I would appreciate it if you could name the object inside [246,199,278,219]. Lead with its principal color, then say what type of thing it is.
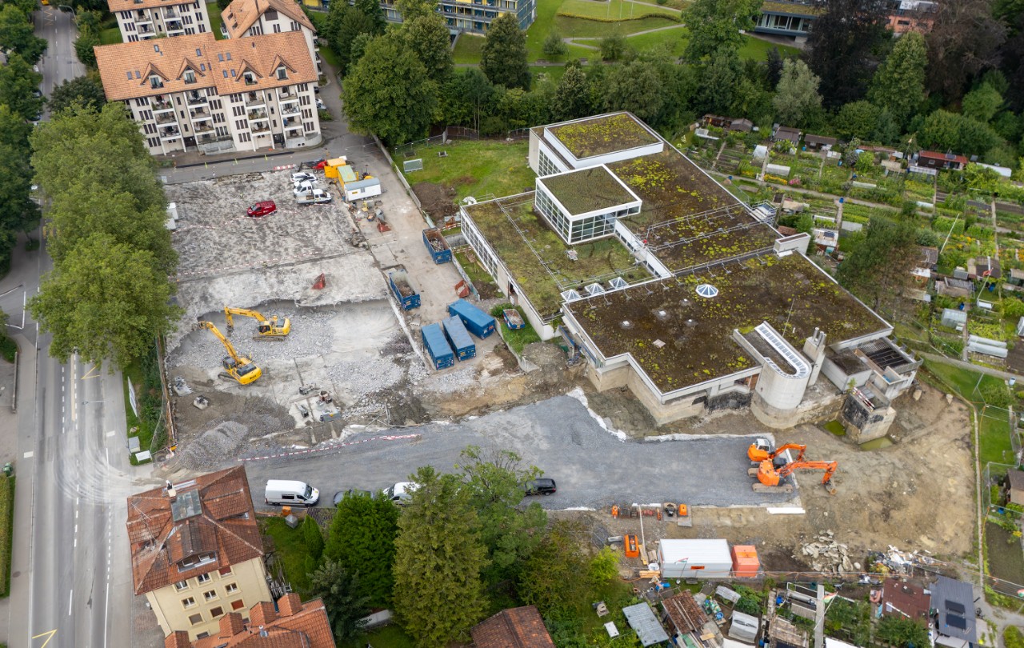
red vehicle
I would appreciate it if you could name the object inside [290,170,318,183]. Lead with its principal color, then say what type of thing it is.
white vehicle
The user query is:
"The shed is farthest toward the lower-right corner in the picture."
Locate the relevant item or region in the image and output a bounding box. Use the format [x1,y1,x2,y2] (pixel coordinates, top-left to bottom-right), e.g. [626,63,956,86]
[916,575,992,648]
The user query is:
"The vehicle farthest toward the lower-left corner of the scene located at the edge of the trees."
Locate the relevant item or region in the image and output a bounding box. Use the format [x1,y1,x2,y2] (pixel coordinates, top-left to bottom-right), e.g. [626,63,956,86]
[262,485,319,512]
